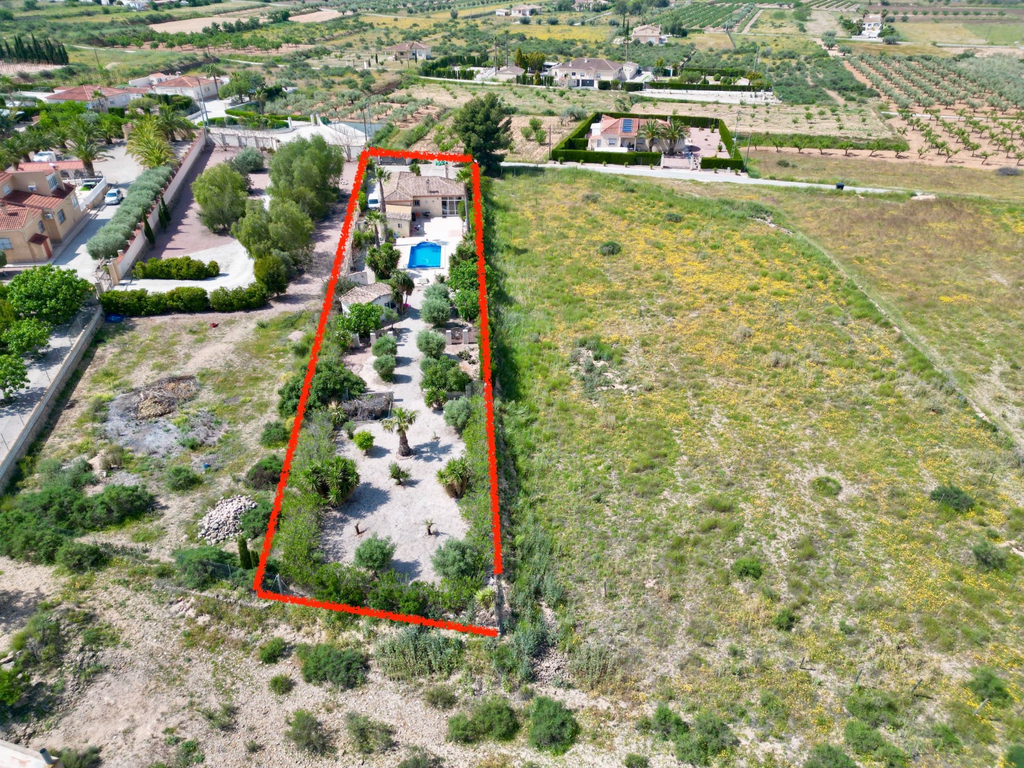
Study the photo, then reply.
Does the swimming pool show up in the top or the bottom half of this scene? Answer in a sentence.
It is in the top half that the swimming pool appears.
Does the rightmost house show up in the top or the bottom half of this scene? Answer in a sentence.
The top half of the photo is where the rightmost house is.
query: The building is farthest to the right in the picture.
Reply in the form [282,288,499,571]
[853,14,899,38]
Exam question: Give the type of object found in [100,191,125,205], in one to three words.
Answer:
car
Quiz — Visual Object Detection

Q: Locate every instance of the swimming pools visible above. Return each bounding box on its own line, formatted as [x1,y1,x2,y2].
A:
[405,241,443,268]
